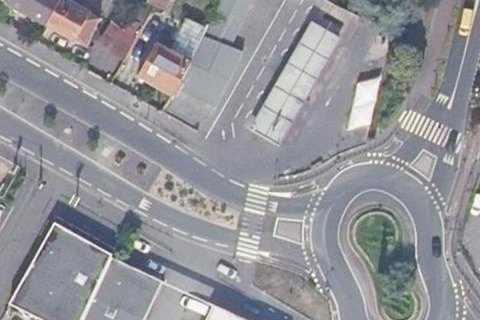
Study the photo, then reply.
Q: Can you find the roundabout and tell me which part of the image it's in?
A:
bottom right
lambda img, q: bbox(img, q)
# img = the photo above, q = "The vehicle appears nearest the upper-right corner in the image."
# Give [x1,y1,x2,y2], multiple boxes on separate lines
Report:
[458,4,476,36]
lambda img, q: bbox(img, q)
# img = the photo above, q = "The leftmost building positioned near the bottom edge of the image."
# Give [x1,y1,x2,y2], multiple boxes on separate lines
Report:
[10,221,114,320]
